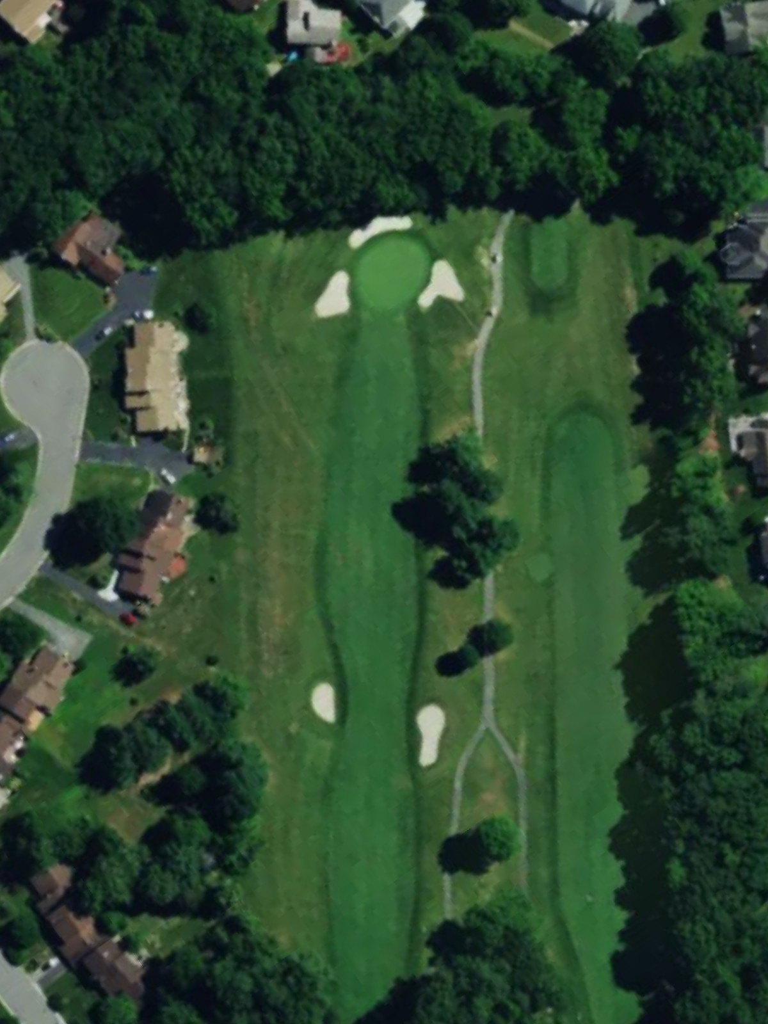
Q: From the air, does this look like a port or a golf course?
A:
golf course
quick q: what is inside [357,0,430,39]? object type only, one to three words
house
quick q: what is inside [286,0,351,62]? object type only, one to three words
house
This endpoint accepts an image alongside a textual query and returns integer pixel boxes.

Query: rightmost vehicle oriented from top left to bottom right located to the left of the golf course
[160,468,175,484]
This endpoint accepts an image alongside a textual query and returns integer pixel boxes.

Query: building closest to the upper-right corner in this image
[719,2,768,55]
